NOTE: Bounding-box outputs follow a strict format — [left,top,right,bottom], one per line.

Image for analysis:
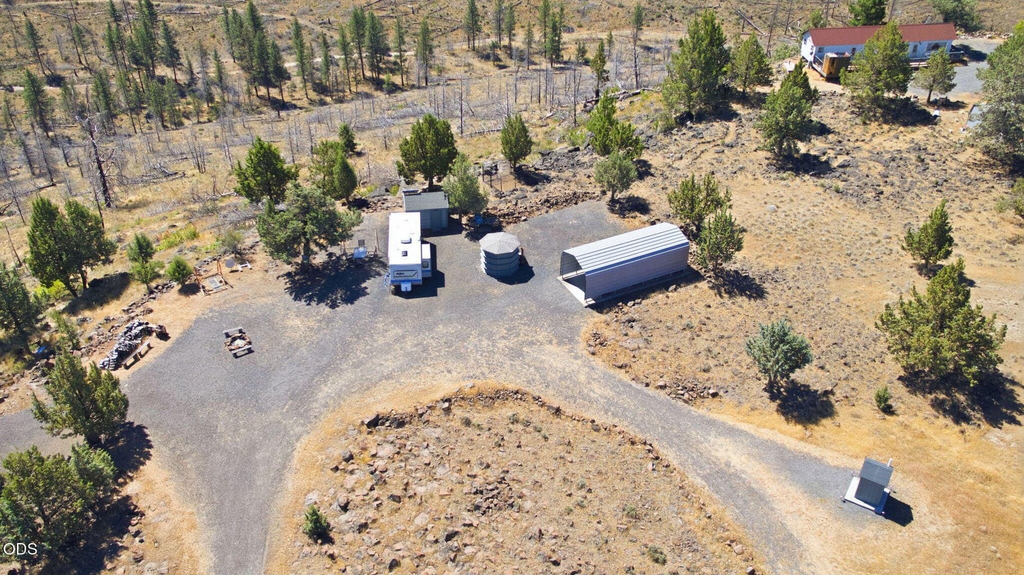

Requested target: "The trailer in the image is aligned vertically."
[388,212,431,300]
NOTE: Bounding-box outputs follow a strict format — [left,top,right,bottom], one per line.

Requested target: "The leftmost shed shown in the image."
[404,189,449,232]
